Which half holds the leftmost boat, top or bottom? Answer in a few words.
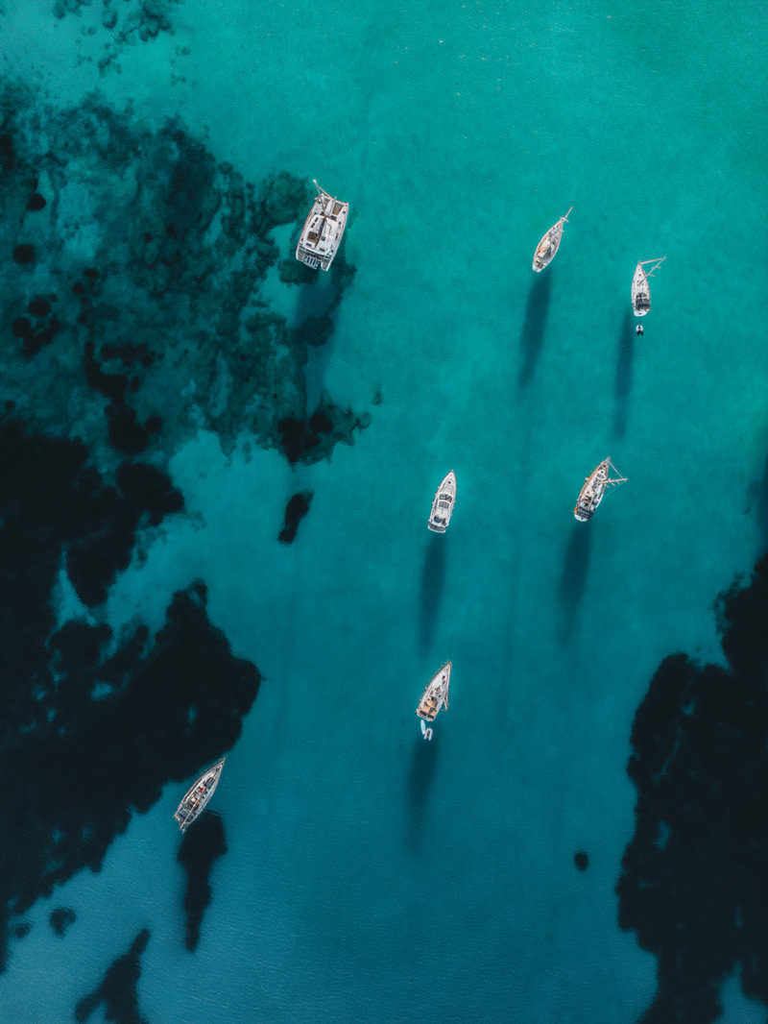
bottom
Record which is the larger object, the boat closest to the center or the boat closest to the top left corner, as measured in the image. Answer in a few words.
the boat closest to the top left corner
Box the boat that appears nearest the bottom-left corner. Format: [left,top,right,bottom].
[174,758,225,832]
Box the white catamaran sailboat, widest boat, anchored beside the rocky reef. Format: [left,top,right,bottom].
[296,182,349,272]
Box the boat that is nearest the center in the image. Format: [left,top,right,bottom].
[428,470,457,533]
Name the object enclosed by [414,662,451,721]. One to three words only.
boat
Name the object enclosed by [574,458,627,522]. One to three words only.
boat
